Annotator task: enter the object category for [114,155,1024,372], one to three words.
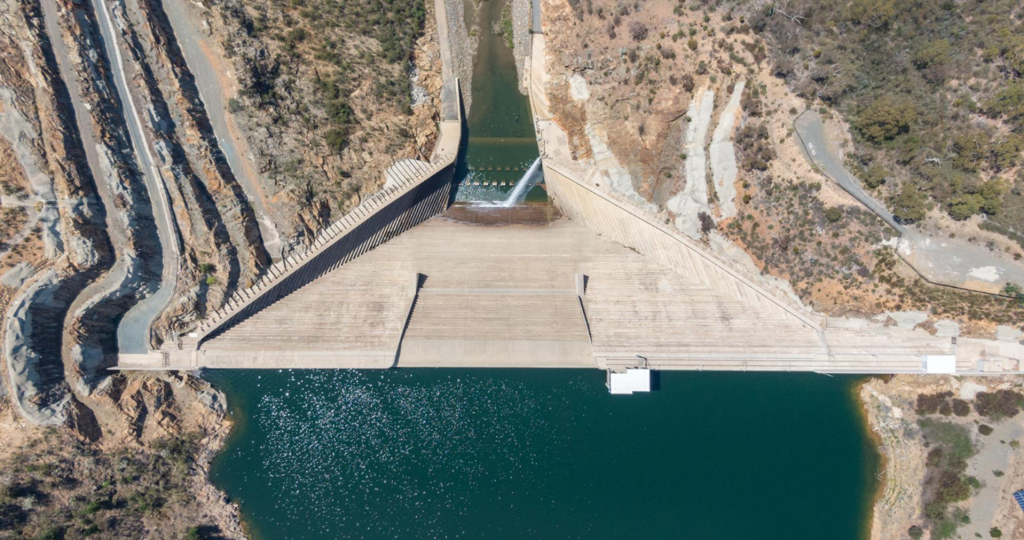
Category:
dam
